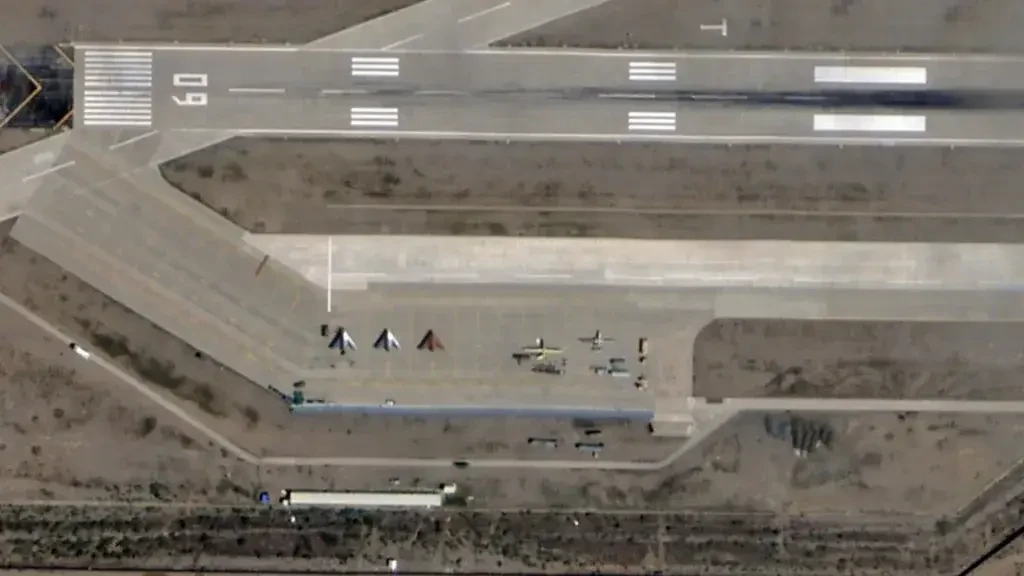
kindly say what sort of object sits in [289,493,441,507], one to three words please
building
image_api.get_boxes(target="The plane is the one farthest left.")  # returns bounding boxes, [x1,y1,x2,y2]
[332,328,356,351]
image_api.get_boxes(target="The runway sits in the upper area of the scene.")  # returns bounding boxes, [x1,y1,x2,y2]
[72,43,1024,145]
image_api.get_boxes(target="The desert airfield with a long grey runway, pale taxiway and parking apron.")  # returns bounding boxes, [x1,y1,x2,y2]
[0,0,1024,412]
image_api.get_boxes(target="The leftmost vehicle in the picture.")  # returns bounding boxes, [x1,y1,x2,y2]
[70,344,90,359]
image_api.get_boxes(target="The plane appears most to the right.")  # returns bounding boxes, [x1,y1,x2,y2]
[580,333,616,352]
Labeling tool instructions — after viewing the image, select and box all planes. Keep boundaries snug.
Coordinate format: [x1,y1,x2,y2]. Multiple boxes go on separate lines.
[332,328,356,351]
[512,355,529,365]
[580,333,616,352]
[523,339,562,361]
[421,329,444,353]
[377,328,400,352]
